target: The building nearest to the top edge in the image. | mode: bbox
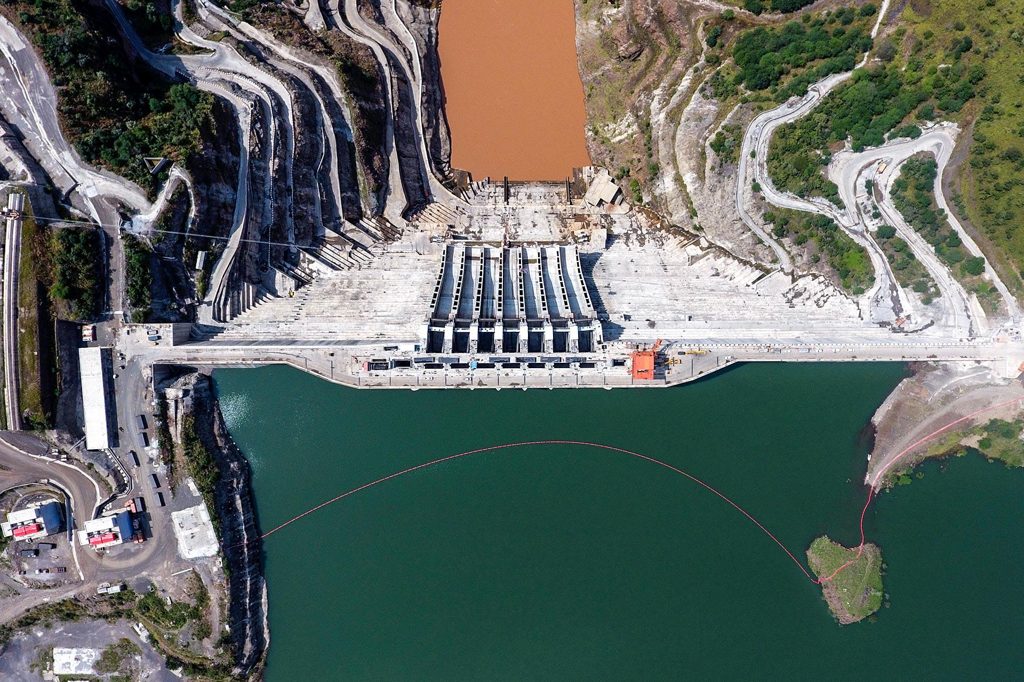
[581,172,631,210]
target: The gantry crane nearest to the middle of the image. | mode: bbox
[628,337,664,379]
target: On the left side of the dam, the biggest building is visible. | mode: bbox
[79,347,116,450]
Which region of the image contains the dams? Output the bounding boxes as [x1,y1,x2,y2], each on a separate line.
[119,166,993,408]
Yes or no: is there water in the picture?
Yes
